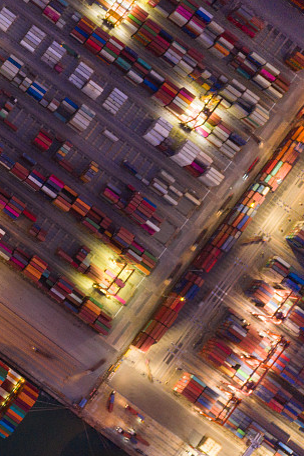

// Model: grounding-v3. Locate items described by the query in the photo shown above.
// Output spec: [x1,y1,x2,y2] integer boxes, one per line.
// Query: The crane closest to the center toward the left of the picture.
[91,256,135,297]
